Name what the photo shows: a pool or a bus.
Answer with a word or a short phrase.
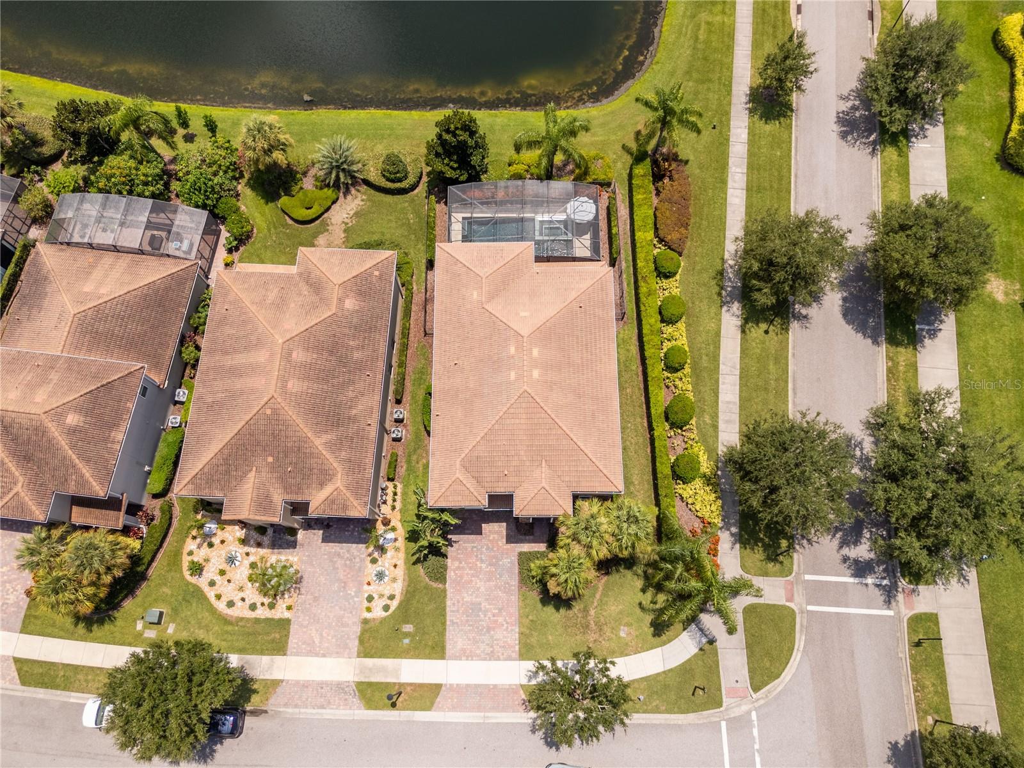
pool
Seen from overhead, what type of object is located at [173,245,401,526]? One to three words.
house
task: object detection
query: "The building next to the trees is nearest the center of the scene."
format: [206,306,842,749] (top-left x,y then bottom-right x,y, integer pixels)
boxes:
[425,241,625,527]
